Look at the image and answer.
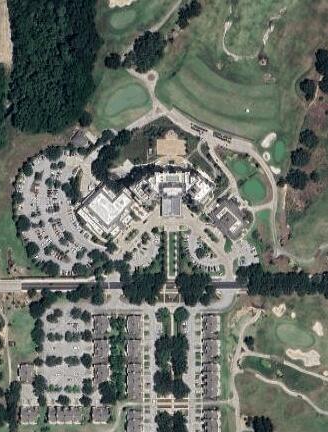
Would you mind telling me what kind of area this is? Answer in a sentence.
The picture captures a golf course.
